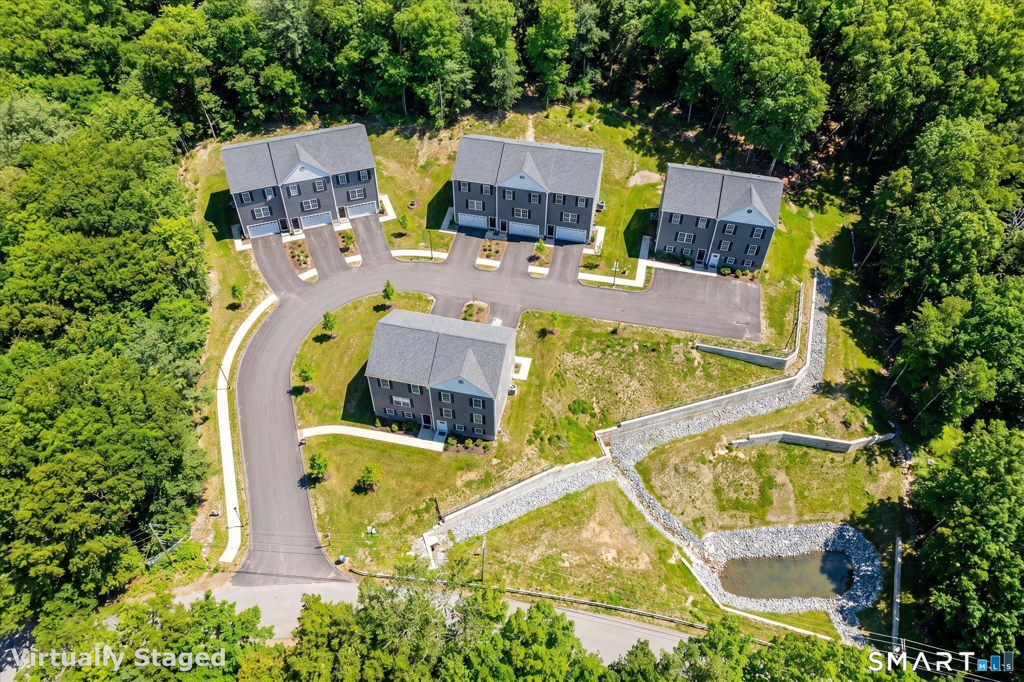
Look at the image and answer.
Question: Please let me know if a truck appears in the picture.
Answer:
No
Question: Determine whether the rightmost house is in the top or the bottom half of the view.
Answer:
top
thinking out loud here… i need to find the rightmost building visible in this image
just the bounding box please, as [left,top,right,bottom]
[654,161,783,270]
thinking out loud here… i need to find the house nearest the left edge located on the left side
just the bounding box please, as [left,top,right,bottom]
[221,123,380,239]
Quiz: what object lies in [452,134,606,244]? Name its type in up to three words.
house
